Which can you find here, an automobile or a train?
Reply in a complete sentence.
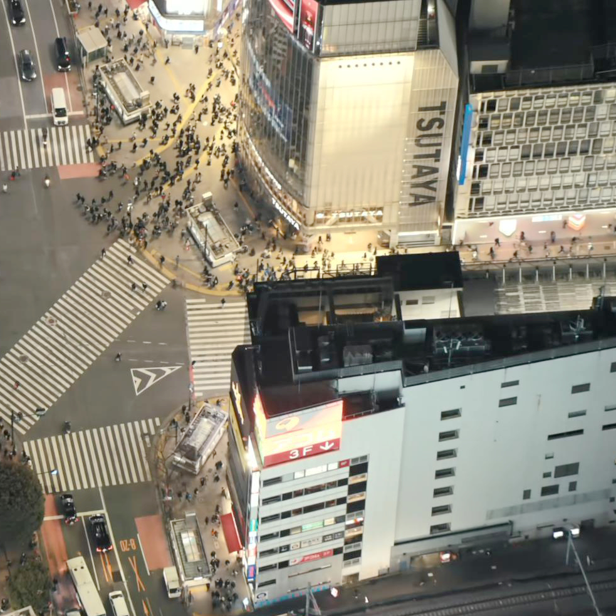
It is an automobile that can be seen here.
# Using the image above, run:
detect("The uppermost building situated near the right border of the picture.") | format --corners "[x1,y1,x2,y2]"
[454,0,616,249]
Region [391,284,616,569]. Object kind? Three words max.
building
